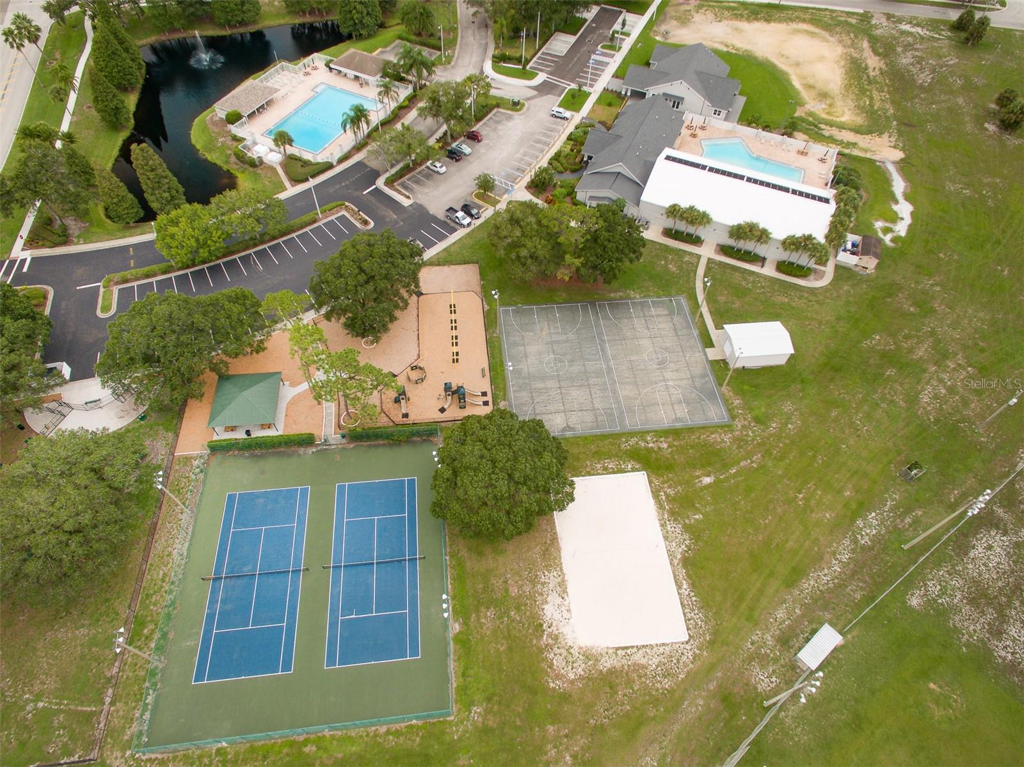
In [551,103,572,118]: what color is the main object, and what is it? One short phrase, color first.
white car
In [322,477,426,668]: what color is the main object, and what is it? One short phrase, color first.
blue tennis court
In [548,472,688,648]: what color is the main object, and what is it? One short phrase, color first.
white sports court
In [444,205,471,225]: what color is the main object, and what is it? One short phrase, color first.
white vehicle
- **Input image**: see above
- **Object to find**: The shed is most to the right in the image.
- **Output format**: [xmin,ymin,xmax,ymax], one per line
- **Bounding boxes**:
[860,238,888,271]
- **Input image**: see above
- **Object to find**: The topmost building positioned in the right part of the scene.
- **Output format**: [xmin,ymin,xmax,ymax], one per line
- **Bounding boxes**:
[617,43,743,118]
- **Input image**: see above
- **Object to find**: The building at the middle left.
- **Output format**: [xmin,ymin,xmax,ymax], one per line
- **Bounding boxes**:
[208,373,284,434]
